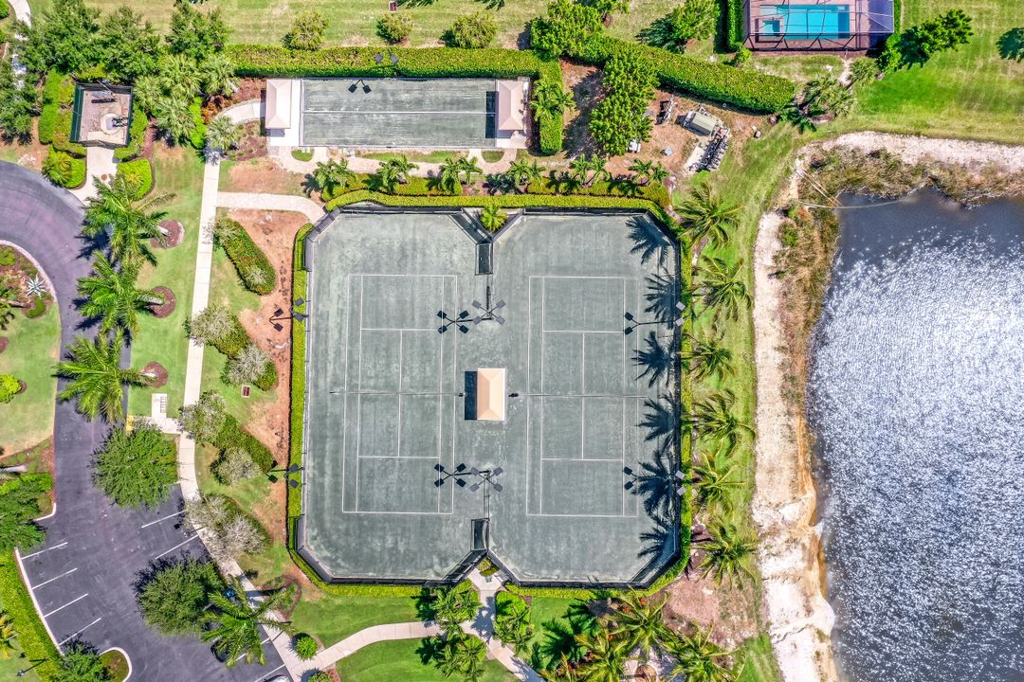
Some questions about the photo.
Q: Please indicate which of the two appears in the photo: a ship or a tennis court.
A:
tennis court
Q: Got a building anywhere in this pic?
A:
Yes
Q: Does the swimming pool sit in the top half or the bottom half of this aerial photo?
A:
top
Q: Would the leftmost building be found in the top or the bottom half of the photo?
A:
top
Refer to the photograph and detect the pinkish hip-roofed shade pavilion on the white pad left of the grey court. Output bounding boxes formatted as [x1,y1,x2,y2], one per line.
[264,78,297,134]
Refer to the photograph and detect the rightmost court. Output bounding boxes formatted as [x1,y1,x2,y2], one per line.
[488,211,680,584]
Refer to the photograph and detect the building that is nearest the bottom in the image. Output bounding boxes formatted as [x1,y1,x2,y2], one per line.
[476,368,506,421]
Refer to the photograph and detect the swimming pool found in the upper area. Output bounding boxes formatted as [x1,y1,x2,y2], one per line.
[743,0,878,47]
